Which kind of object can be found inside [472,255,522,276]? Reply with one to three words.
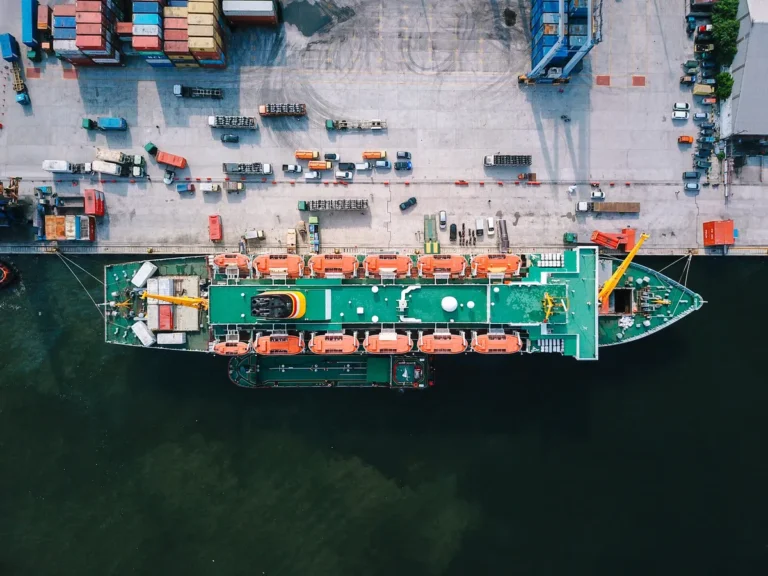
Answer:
boat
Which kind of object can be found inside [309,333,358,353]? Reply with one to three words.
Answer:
boat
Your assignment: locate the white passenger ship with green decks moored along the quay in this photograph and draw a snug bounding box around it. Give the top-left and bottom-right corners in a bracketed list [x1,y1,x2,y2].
[97,233,707,359]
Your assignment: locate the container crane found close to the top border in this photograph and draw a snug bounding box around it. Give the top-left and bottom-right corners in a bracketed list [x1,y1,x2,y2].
[524,0,601,81]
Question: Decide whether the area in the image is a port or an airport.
port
